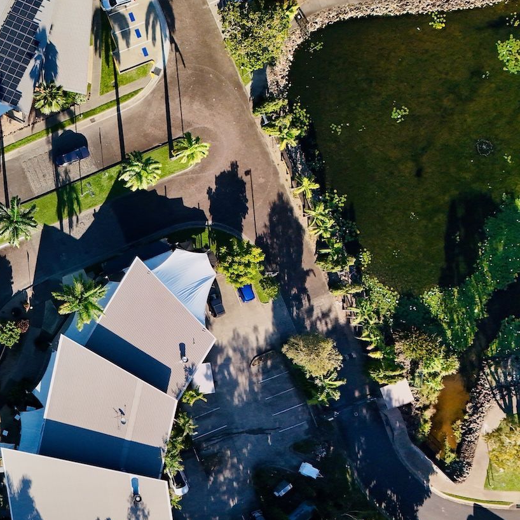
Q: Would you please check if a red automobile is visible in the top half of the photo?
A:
No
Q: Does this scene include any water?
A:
Yes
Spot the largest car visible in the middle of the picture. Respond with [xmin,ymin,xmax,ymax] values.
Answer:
[208,279,227,318]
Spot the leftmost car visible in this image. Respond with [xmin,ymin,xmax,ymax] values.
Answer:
[52,144,91,167]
